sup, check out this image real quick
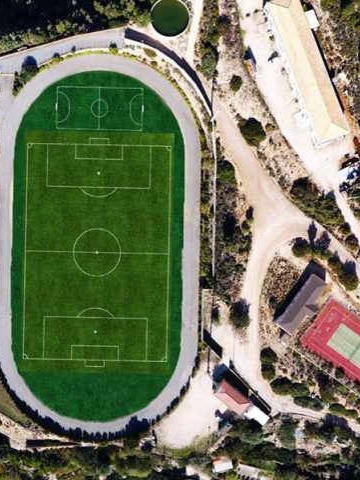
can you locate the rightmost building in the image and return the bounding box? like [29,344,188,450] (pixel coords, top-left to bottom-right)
[336,160,360,185]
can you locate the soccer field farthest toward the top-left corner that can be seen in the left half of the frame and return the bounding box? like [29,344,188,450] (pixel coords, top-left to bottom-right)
[54,84,145,132]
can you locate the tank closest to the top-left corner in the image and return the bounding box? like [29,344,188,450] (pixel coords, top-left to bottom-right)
[150,0,190,37]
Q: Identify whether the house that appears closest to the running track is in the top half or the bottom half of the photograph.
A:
bottom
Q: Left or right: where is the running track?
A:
left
